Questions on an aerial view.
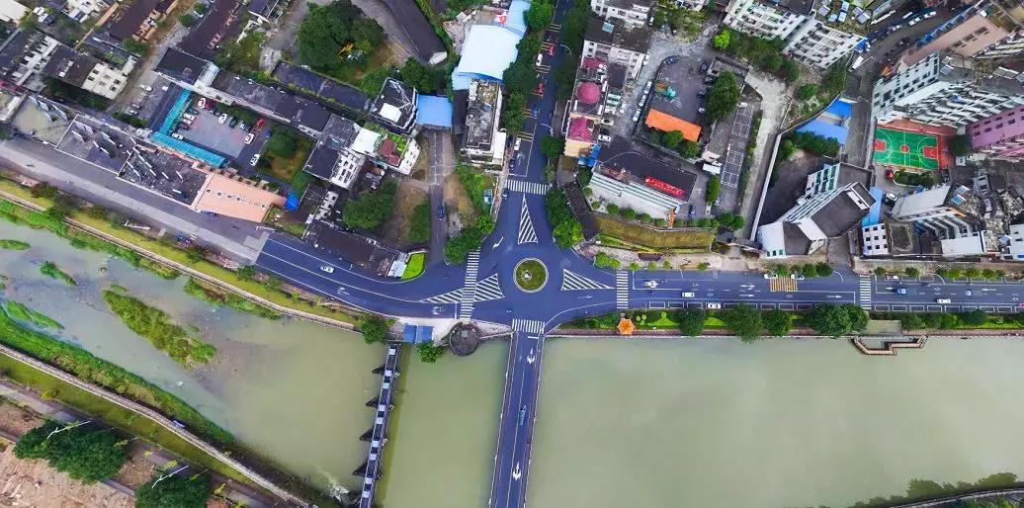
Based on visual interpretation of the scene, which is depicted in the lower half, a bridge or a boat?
bridge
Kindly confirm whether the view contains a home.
Yes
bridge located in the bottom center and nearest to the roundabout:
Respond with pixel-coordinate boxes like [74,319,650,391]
[489,332,544,508]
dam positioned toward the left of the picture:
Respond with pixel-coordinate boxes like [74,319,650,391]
[350,337,413,508]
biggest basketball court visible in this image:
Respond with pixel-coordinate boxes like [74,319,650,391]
[873,123,957,170]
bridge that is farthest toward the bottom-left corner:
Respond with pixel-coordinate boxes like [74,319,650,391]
[362,344,402,508]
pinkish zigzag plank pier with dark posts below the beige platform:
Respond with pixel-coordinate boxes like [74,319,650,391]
[852,335,931,357]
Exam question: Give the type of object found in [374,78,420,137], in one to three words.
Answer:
house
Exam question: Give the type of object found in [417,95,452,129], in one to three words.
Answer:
shed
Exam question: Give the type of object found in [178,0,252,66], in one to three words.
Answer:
building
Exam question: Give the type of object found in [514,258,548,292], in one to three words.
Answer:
roundabout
